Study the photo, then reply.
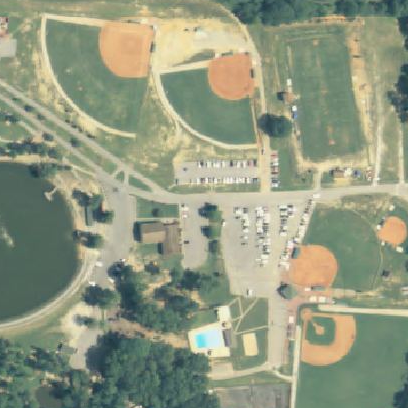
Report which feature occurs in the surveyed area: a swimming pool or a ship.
swimming pool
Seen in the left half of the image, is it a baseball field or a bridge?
baseball field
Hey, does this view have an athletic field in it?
Yes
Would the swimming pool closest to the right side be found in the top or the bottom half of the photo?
bottom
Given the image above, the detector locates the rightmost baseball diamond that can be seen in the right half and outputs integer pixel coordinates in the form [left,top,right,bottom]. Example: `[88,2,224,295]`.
[375,205,408,251]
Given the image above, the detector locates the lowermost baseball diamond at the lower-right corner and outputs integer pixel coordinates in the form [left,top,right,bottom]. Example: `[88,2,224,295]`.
[292,304,408,408]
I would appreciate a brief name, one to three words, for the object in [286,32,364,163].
sports field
